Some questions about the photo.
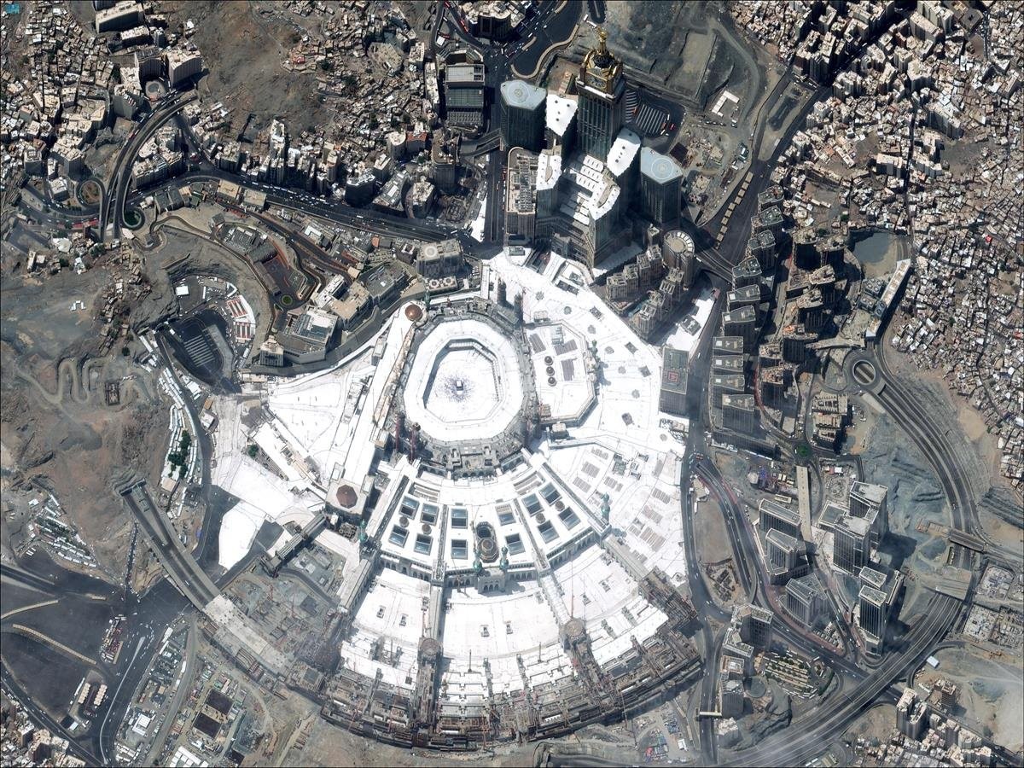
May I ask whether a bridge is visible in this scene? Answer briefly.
Yes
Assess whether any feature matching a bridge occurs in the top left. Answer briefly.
Yes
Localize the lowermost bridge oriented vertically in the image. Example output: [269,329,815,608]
[796,464,814,542]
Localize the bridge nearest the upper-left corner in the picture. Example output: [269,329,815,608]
[97,88,196,242]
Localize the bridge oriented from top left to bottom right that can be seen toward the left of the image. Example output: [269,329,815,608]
[201,592,297,674]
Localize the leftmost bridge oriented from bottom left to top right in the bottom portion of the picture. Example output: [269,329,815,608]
[261,514,326,576]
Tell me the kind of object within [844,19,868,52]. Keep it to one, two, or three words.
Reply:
building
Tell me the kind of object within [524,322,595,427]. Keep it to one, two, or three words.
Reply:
building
